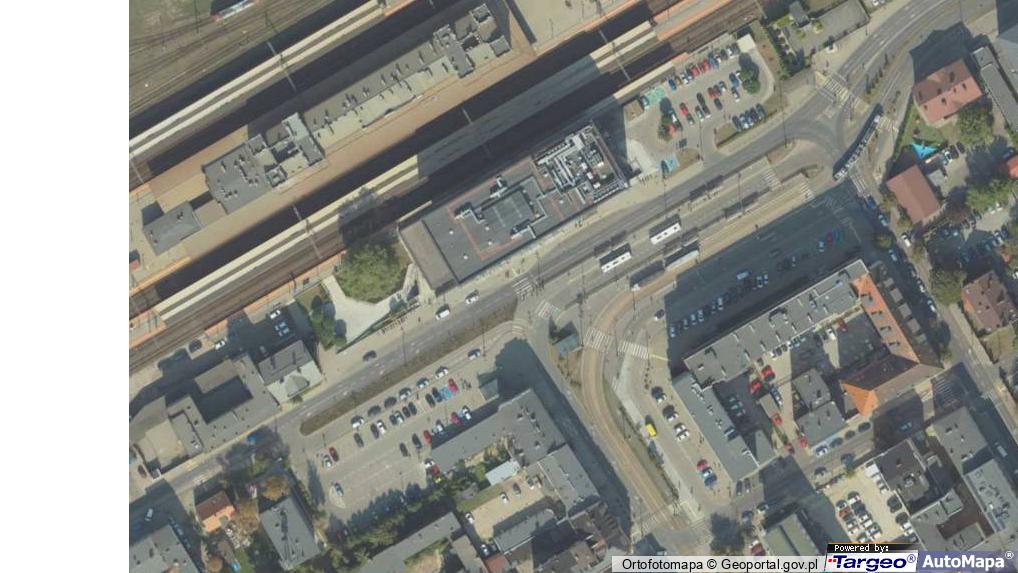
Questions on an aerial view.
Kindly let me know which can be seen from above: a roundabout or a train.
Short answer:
train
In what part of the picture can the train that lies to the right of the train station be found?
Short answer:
top right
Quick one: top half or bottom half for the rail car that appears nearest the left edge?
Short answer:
top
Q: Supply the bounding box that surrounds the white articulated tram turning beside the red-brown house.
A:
[836,116,882,175]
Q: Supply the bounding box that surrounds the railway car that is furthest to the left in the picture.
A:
[214,0,259,22]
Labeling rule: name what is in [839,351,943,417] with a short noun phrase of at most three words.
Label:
house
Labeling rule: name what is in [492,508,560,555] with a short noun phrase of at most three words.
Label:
shed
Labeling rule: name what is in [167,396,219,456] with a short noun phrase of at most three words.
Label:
building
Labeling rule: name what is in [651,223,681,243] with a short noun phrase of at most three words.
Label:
vehicle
